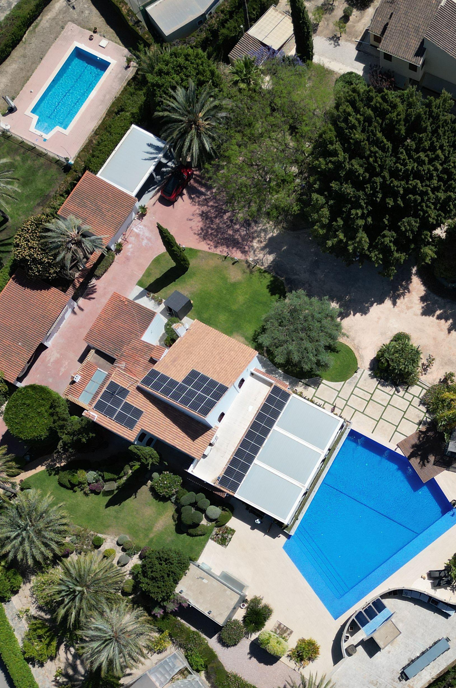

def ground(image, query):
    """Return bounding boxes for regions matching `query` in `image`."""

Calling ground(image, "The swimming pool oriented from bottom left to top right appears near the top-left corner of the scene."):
[31,46,110,134]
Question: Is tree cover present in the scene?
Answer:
Yes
